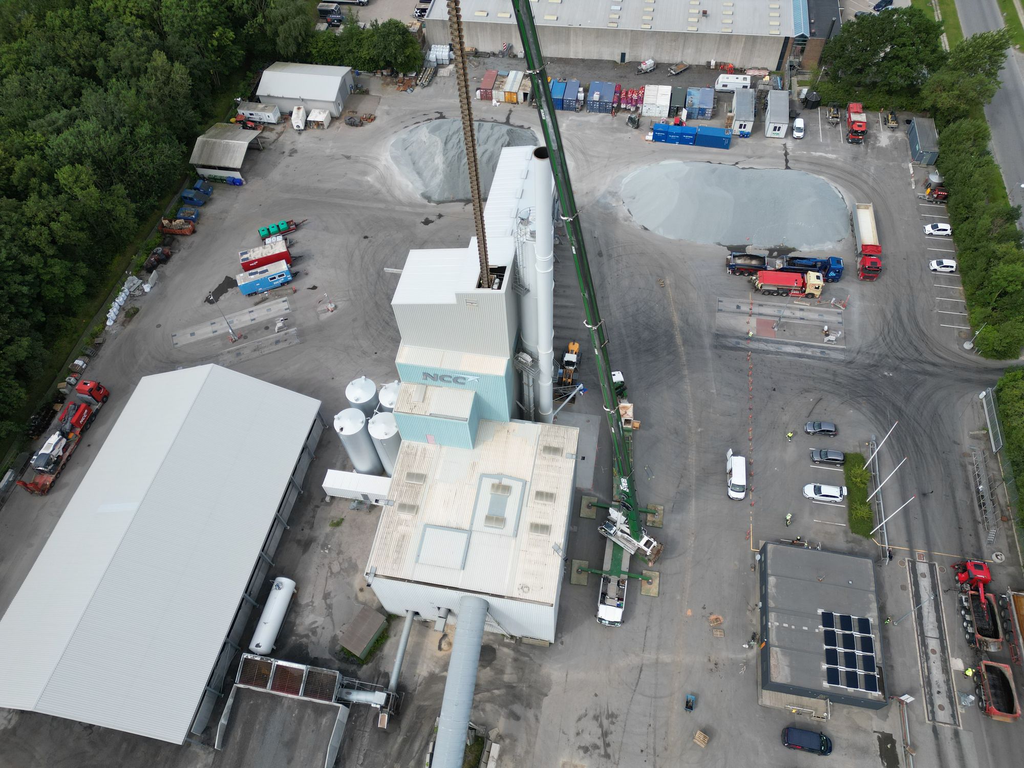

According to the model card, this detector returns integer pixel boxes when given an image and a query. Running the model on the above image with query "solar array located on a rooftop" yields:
[815,610,880,697]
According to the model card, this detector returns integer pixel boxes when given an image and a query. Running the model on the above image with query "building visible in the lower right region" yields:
[754,542,890,735]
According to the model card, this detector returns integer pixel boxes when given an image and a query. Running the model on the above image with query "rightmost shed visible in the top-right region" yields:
[908,116,942,169]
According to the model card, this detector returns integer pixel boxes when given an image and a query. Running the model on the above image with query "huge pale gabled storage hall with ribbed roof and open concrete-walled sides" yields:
[0,364,328,752]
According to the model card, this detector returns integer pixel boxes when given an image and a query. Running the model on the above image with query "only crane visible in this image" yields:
[513,0,662,629]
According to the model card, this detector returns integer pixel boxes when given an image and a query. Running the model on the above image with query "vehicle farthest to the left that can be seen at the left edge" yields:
[19,382,109,492]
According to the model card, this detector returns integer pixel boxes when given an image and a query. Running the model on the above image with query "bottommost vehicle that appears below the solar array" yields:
[782,726,831,756]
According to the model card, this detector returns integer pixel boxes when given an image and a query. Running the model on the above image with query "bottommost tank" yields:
[250,575,299,657]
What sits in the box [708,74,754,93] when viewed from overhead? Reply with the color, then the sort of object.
white camper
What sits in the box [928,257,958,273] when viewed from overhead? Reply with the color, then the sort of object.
white car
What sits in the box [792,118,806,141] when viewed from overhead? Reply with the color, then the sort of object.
white vehicle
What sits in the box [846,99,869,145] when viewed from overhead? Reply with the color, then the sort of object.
red truck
